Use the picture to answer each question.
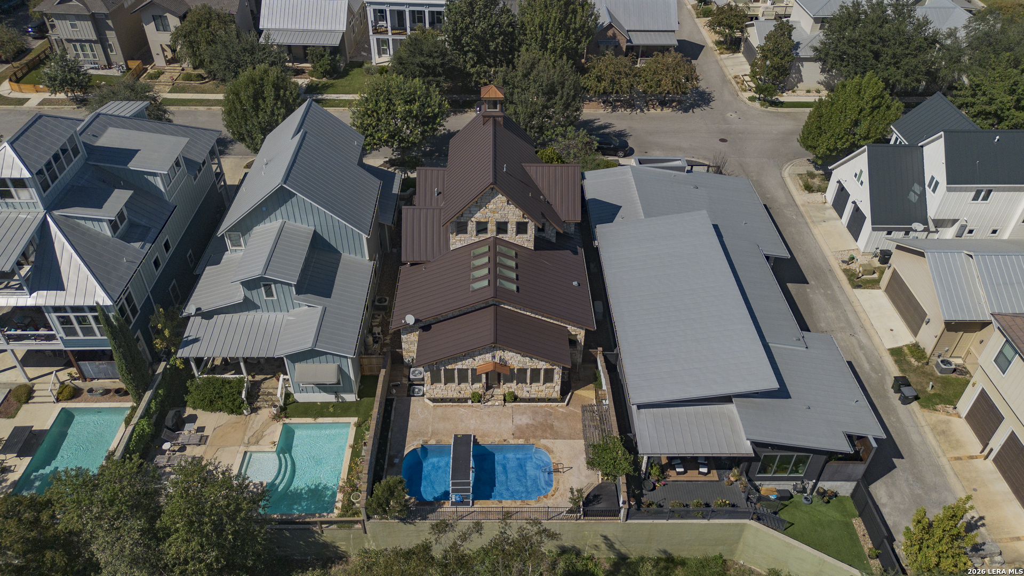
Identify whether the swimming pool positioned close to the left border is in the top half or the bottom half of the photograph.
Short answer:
bottom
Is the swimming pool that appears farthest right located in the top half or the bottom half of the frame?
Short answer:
bottom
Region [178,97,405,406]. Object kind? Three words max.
house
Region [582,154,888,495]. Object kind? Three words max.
house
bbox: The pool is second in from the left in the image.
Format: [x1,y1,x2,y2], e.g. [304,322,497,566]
[228,419,355,518]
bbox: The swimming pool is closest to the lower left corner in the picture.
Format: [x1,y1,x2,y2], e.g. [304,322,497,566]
[0,402,133,513]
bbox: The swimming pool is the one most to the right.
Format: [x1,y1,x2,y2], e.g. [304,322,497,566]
[395,437,562,509]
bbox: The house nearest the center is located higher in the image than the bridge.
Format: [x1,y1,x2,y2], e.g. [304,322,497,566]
[389,83,598,411]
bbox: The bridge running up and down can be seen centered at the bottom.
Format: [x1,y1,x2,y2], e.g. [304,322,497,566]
[448,435,474,507]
